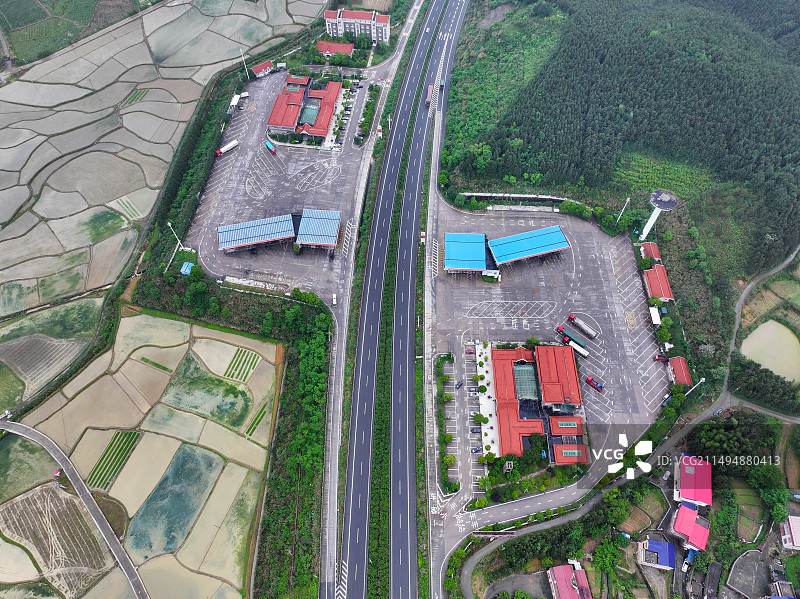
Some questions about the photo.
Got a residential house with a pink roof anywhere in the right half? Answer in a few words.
Yes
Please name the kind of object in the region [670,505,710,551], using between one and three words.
house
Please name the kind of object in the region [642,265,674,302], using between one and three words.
house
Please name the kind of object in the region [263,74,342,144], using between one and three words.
building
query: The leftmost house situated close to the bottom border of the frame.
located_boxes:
[543,565,592,599]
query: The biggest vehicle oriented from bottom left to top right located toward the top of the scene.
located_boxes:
[216,139,238,156]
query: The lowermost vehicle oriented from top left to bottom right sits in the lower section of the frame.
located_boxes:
[584,373,607,394]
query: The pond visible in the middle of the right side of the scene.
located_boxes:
[741,321,800,383]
